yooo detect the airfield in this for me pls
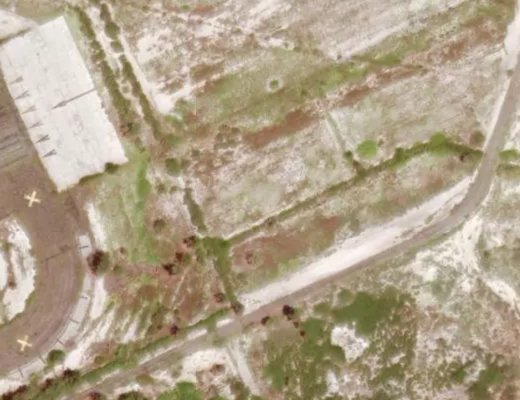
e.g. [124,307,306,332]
[0,17,127,387]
